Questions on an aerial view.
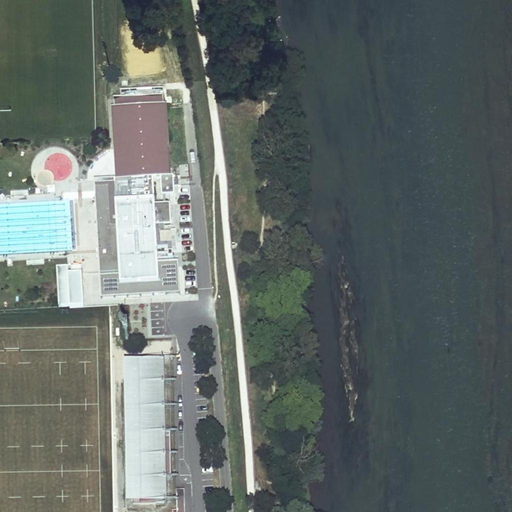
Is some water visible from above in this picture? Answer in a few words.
Yes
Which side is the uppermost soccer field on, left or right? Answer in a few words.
left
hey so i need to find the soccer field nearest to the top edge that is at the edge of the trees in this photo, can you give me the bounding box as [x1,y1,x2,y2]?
[0,0,97,127]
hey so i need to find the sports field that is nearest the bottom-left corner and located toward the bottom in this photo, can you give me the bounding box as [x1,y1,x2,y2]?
[0,325,102,512]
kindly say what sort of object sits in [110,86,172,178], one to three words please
building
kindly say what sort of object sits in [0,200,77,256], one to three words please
swimming pool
